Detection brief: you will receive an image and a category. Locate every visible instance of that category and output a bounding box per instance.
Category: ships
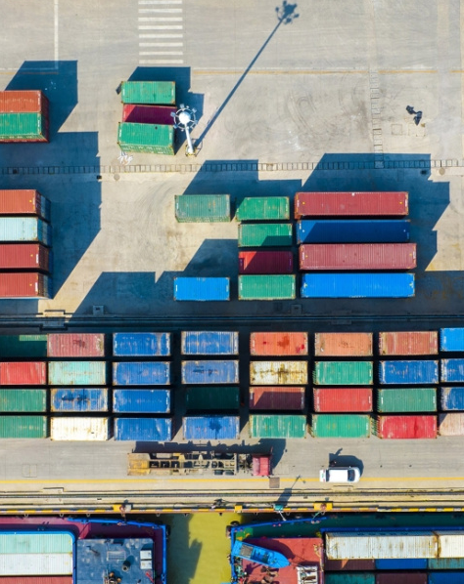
[221,511,464,584]
[0,516,173,584]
